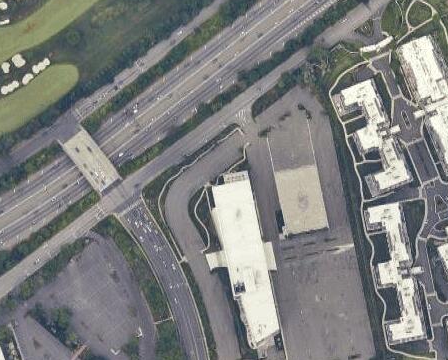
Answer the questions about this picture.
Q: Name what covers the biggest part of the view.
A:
paved ground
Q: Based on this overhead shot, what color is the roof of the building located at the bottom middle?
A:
white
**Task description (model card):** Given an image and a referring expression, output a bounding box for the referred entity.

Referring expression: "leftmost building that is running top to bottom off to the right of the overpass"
[206,170,280,359]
